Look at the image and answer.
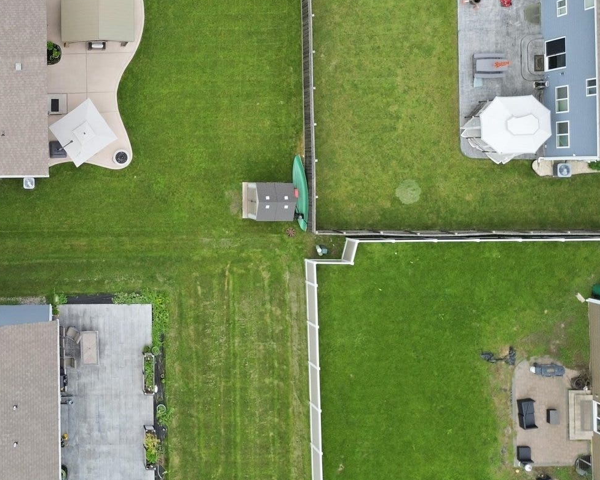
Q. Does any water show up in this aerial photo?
No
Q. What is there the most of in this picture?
grass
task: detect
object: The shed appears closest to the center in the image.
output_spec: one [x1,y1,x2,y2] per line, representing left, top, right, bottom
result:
[242,183,297,220]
